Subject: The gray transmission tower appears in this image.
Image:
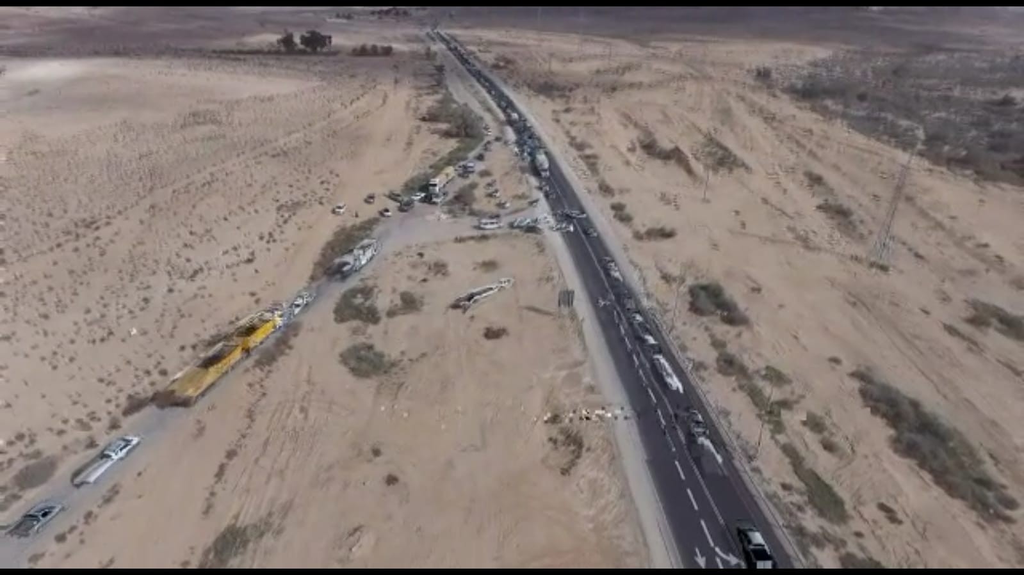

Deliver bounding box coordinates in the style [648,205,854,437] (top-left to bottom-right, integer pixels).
[866,130,931,267]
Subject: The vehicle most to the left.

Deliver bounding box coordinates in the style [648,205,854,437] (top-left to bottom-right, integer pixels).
[0,495,64,539]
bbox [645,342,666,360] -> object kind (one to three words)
car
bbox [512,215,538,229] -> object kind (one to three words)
vehicle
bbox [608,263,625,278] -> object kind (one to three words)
car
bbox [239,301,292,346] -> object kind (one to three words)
truck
